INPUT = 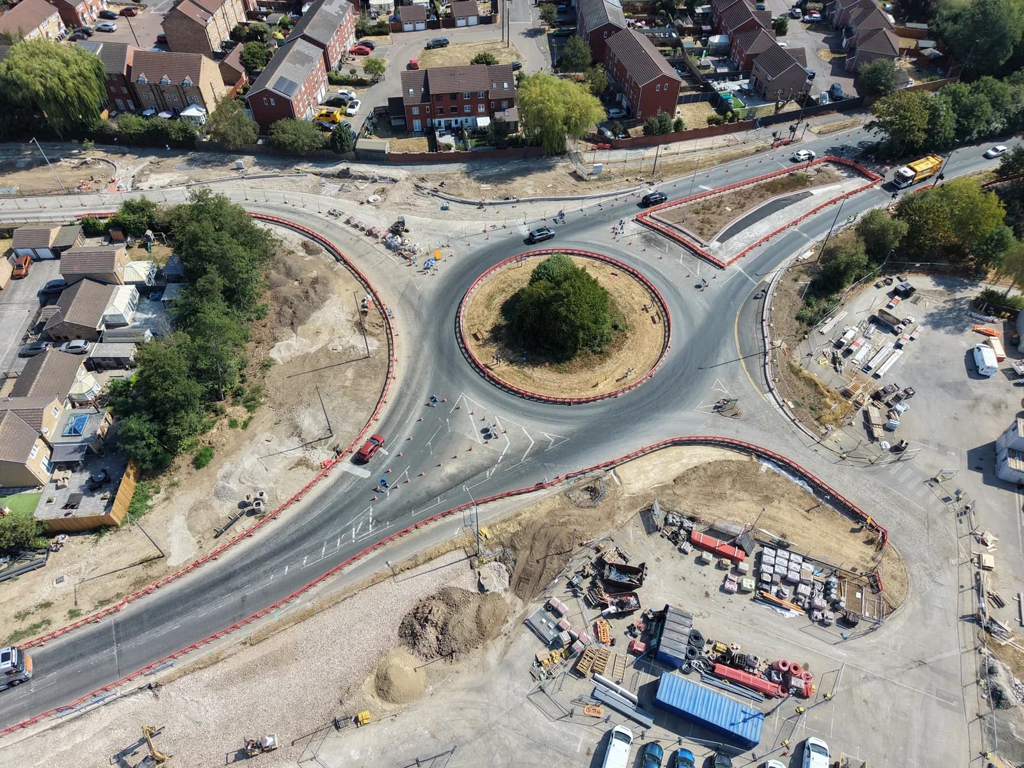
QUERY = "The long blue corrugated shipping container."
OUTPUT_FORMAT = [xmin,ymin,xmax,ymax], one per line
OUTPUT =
[649,673,765,749]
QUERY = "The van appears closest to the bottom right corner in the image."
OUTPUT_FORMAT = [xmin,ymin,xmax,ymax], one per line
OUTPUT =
[801,732,832,768]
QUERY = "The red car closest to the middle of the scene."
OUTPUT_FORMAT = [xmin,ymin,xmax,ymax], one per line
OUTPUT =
[355,434,385,467]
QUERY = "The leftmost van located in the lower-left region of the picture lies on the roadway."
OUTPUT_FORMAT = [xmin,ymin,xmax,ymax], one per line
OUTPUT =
[0,651,39,688]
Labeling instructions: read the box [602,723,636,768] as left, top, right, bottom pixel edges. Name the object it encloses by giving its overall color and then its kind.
white van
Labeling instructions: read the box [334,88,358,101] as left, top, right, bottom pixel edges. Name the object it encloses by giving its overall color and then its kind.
white vehicle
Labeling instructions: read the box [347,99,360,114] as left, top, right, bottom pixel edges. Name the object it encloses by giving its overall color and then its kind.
white vehicle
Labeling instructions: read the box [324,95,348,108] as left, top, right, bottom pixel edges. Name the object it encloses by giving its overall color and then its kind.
black vehicle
